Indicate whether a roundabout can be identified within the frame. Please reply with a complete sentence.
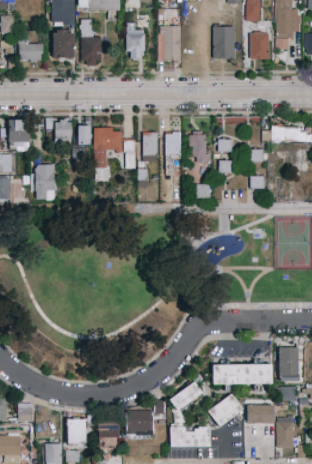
No, I can't see a single roundabout in this photo.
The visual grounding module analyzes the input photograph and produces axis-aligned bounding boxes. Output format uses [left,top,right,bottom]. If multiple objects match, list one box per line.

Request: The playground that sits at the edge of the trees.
[201,235,244,266]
